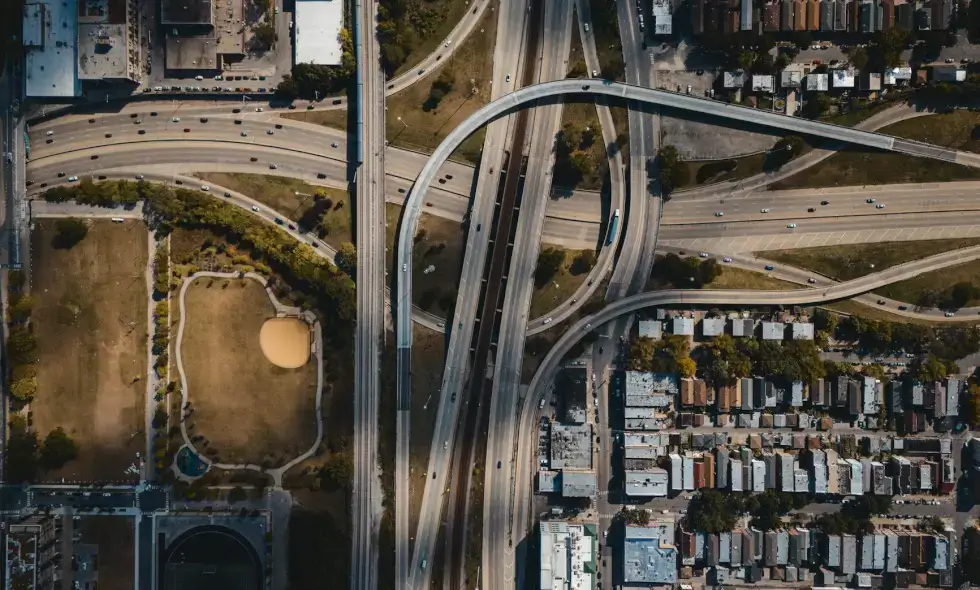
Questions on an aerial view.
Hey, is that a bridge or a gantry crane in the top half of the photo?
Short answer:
bridge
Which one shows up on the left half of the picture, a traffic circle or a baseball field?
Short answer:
baseball field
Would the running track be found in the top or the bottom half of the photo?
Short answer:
bottom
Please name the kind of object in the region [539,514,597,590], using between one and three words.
building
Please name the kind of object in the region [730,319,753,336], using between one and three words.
house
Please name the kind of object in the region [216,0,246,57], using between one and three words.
building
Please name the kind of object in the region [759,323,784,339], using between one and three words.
house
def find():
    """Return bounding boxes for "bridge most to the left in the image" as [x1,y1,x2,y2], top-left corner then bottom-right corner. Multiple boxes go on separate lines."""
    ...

[0,102,32,300]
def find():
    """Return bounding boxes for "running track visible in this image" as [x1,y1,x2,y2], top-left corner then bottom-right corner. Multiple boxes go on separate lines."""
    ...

[157,516,266,590]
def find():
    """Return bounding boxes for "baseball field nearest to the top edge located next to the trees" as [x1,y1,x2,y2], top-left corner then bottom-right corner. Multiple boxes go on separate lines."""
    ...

[260,318,310,368]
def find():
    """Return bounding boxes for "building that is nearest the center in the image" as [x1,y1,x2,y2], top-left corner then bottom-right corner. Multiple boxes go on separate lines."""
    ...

[555,365,586,409]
